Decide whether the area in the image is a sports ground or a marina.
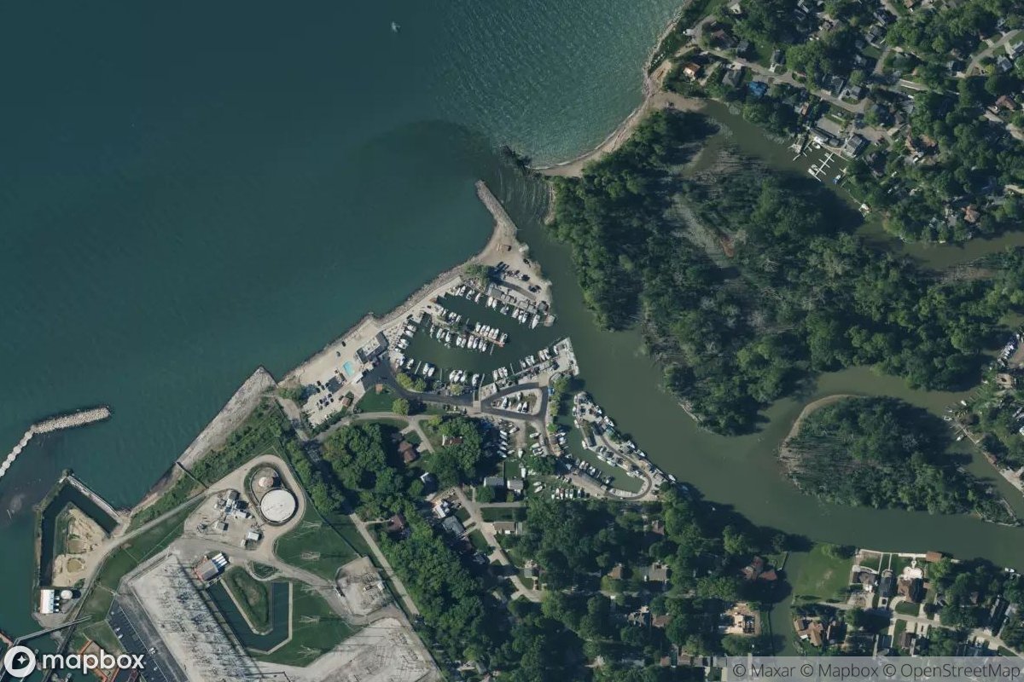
marina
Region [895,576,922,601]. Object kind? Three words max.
house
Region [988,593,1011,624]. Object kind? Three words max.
house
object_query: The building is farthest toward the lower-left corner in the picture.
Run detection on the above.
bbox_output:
[40,589,54,614]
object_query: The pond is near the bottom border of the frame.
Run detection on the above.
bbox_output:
[208,580,289,652]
